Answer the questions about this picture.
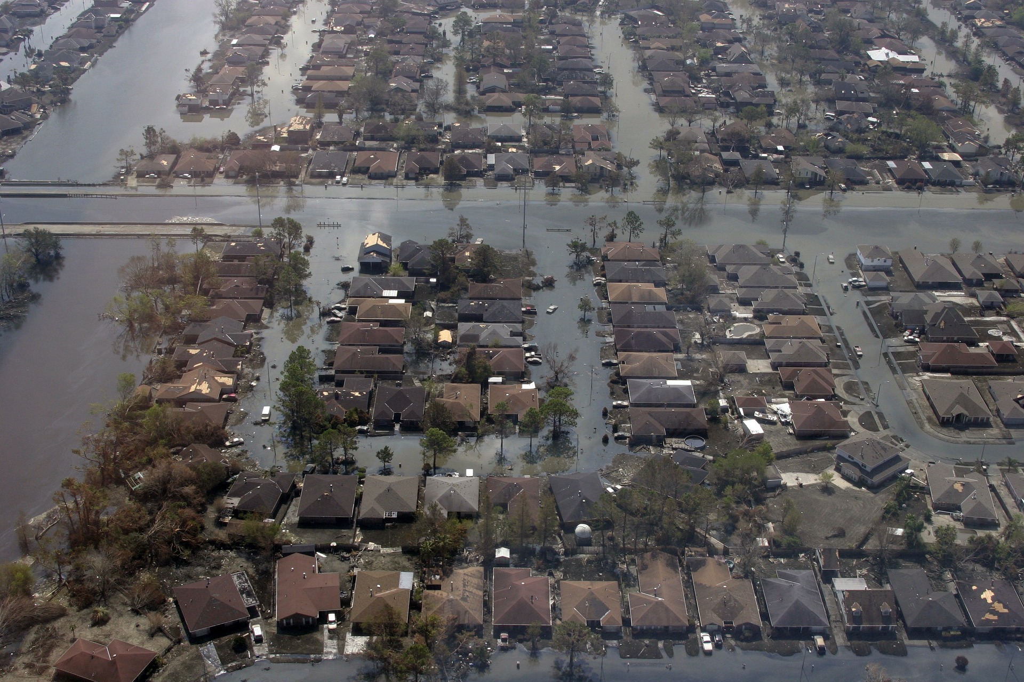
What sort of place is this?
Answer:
residential area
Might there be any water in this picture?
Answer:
Yes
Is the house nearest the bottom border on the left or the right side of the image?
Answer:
left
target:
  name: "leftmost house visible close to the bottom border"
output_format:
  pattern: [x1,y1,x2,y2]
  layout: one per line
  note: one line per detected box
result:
[53,638,160,682]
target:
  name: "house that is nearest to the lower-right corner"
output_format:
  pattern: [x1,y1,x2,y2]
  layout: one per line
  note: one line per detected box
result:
[959,578,1024,634]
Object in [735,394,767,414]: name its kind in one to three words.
building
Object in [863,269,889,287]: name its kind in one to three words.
building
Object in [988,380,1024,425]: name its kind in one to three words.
house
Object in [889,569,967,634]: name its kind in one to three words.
house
